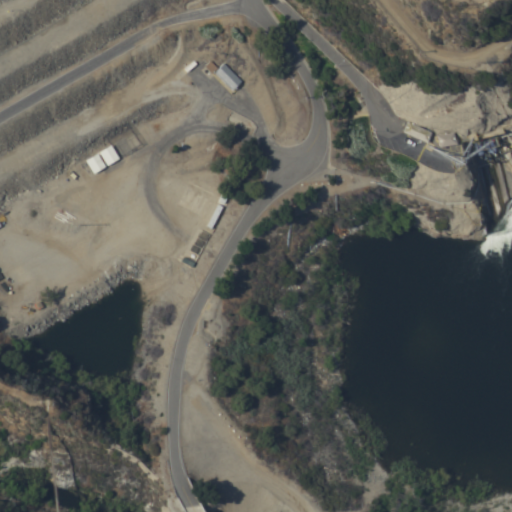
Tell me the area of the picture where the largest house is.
top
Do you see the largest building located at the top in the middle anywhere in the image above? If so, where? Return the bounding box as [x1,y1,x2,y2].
[214,62,244,94]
